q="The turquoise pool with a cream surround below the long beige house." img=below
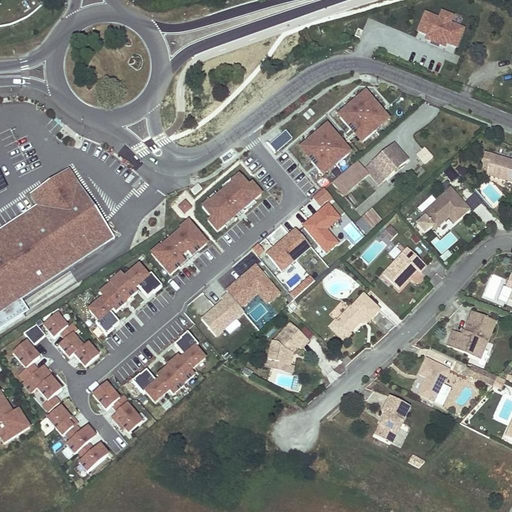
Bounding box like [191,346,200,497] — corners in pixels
[480,181,504,206]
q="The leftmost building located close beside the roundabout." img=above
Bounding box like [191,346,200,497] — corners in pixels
[0,166,114,312]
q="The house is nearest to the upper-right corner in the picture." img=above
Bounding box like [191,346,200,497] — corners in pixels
[416,9,466,48]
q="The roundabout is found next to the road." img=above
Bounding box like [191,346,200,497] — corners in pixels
[44,2,172,130]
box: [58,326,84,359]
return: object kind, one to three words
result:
house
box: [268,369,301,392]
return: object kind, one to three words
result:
swimming pool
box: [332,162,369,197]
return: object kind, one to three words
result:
shed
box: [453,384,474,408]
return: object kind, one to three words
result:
swimming pool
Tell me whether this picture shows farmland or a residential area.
residential area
